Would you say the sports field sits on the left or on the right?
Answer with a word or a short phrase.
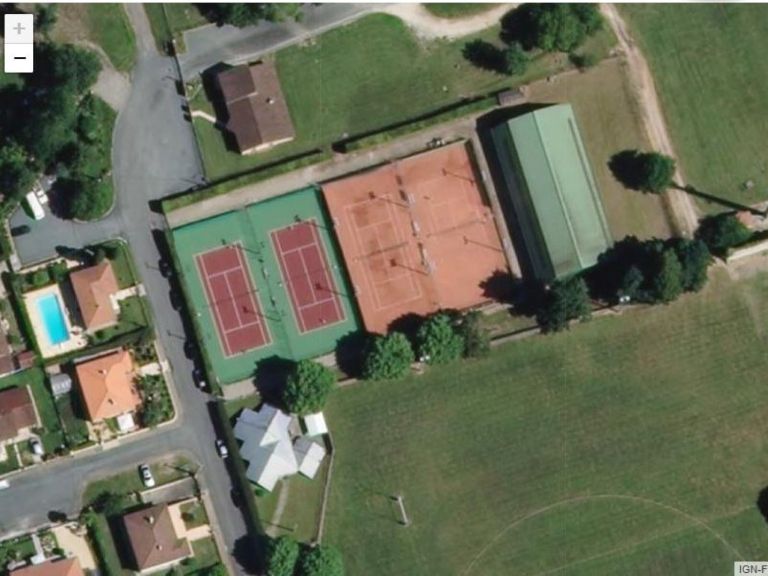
right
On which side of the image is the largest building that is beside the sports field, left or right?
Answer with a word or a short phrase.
right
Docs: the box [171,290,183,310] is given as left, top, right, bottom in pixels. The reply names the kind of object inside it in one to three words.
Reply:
vehicle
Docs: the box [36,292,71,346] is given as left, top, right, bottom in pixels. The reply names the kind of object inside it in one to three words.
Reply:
swimming pool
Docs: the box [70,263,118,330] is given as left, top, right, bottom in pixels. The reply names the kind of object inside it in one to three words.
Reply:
house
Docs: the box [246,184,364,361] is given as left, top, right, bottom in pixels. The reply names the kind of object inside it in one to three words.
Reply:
tennis court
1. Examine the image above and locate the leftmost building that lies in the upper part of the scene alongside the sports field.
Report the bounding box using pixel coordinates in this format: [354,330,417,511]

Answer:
[491,103,617,283]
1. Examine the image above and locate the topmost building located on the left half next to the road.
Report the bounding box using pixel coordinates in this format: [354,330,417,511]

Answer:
[218,60,294,150]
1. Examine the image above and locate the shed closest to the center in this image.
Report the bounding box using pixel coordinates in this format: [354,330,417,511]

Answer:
[304,412,328,437]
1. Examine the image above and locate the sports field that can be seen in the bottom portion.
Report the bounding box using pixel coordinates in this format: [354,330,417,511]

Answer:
[317,254,768,576]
